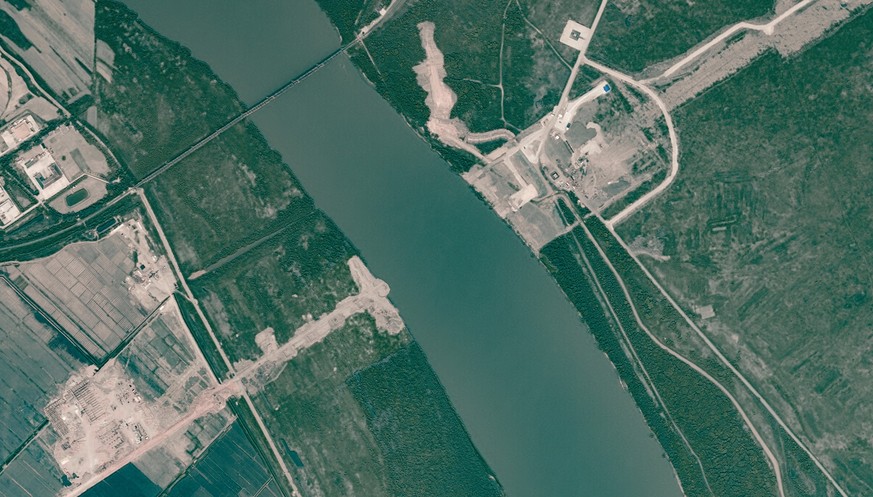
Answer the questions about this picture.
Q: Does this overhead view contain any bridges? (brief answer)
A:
Yes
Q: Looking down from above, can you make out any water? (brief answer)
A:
Yes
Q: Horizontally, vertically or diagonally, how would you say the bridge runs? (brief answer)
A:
diagonally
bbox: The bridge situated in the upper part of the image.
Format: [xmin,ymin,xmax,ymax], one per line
[132,35,361,191]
